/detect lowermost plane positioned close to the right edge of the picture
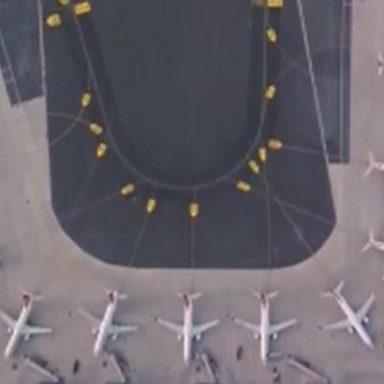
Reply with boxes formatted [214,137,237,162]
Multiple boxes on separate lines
[323,282,375,348]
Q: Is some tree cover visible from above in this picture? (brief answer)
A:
No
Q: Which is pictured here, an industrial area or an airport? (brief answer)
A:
airport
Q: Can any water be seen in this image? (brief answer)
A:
No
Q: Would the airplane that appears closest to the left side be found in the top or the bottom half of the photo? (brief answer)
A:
bottom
